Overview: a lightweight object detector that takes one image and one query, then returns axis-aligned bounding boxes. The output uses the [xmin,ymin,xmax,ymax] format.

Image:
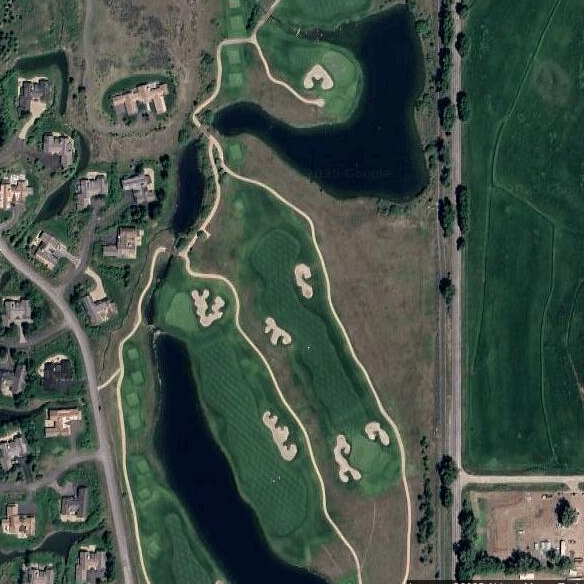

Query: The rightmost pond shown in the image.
[172,136,205,232]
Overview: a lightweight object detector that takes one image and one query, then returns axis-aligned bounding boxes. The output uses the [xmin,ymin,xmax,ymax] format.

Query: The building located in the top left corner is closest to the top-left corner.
[16,75,52,110]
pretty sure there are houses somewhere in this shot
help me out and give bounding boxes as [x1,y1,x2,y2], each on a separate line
[60,486,89,522]
[0,170,33,209]
[121,165,156,204]
[0,363,29,397]
[2,502,37,539]
[75,544,106,584]
[16,75,52,110]
[35,352,74,390]
[0,428,29,474]
[2,294,34,328]
[44,131,76,169]
[111,81,170,115]
[78,295,118,328]
[103,227,145,260]
[76,171,108,209]
[43,406,82,438]
[31,229,69,271]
